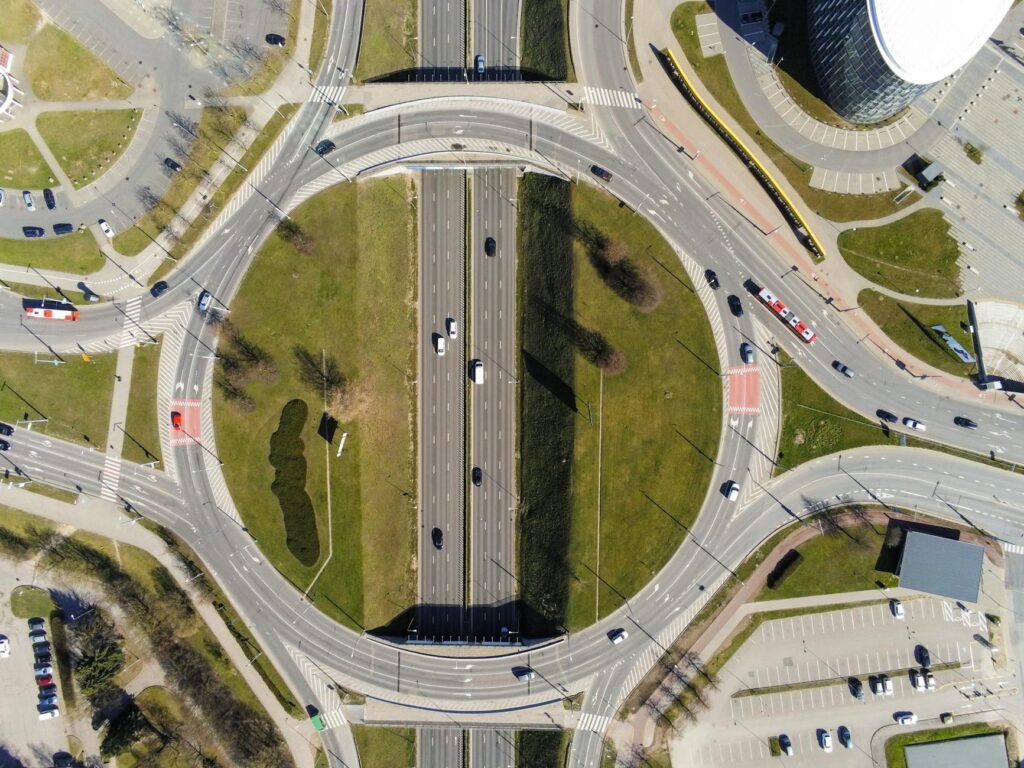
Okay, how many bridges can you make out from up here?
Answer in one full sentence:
I count 2 bridges.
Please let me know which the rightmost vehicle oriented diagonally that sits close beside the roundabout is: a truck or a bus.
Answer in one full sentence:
The rightmost vehicle oriented diagonally that sits close beside the roundabout appears to be a bus.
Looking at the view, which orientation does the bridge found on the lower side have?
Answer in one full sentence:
From this overhead view, the bridge found on the lower side appears to run horizontally.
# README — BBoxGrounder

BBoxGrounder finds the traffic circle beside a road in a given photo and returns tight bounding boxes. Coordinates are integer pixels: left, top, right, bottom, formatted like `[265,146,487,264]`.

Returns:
[63,100,780,712]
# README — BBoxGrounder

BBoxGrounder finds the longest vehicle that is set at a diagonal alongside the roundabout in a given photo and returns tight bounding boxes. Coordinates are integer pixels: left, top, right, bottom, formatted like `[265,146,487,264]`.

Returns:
[754,285,816,345]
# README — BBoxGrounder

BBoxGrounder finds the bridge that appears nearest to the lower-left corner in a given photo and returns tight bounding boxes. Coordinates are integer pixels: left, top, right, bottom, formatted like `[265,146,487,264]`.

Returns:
[346,632,578,736]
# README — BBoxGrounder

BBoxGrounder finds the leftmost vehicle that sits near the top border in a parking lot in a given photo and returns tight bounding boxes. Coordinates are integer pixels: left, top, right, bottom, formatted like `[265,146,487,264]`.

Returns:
[267,34,286,46]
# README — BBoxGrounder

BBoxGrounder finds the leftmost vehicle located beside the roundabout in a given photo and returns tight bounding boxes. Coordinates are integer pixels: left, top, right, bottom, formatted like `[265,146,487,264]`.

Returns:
[26,307,84,320]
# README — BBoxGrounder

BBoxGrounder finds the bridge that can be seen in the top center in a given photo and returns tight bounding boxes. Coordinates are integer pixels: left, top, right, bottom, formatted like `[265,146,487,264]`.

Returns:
[346,74,585,178]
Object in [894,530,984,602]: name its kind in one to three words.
building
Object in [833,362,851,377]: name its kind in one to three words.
car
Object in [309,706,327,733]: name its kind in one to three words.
vehicle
